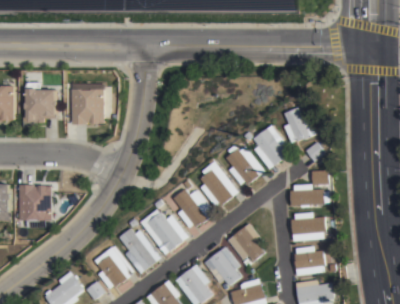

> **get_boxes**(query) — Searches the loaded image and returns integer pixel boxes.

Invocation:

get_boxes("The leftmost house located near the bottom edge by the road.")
[46,272,85,304]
